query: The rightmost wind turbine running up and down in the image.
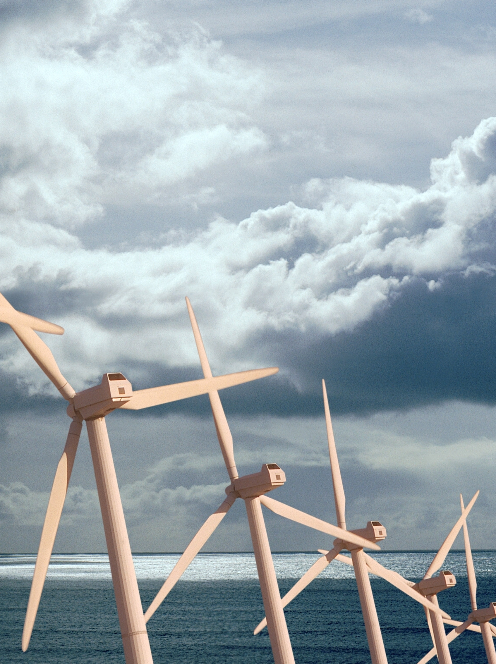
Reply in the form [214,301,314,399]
[418,495,496,664]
